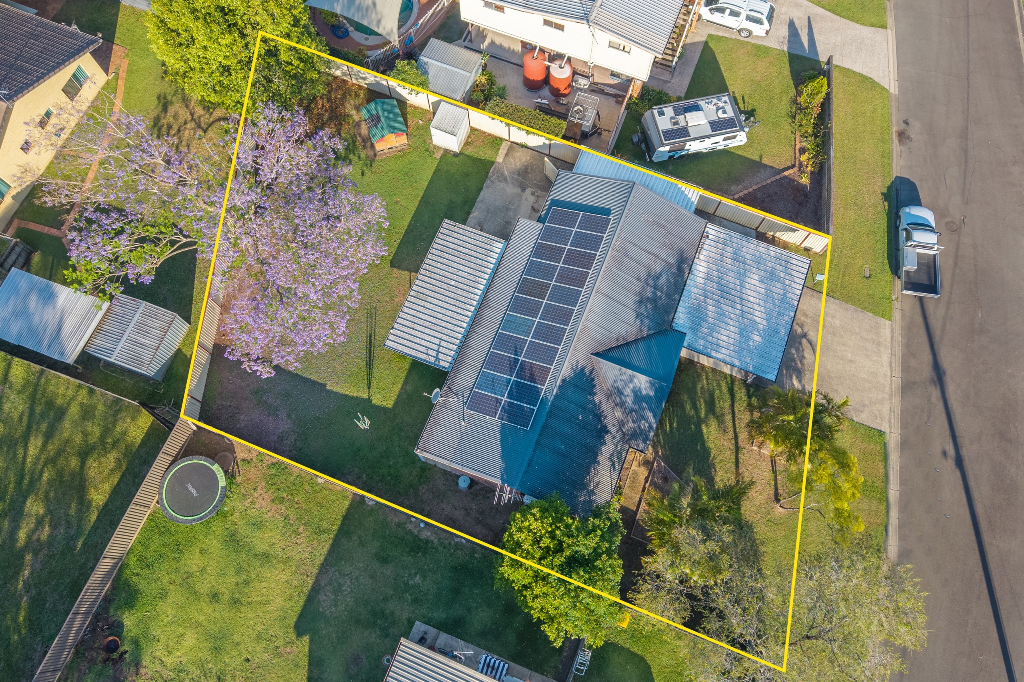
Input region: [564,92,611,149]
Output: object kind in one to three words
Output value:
trailer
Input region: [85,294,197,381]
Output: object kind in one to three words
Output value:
shed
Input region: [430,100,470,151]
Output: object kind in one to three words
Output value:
shed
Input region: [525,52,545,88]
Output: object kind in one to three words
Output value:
water tank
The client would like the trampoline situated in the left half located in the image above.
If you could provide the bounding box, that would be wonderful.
[158,456,229,524]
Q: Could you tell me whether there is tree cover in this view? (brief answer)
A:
Yes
